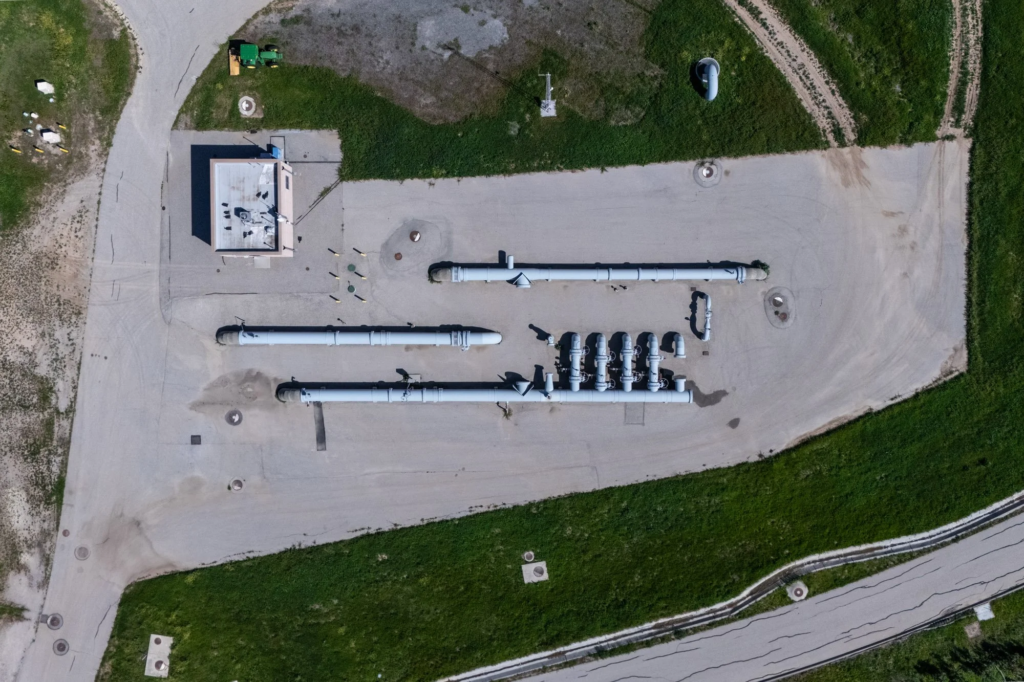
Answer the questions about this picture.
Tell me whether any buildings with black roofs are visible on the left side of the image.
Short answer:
No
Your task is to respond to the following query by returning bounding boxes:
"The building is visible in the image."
[209,159,293,258]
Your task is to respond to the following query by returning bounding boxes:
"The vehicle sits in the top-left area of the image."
[240,43,283,69]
